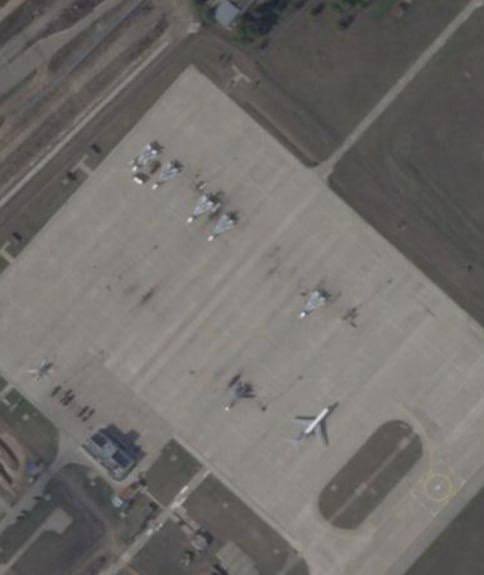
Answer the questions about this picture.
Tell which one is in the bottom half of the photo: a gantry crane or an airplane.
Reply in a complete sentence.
The feature located in the bottom half of the photo is an airplane.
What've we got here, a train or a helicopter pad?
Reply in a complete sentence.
Of the two, only a helicopter pad appears.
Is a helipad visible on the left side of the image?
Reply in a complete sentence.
No, I can find no helipad on the left side of the image.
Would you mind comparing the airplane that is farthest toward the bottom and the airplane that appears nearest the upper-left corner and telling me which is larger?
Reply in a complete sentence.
The airplane that is farthest toward the bottom takes up more space than the airplane that appears nearest the upper-left corner.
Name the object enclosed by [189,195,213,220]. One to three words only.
airplane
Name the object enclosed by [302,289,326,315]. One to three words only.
airplane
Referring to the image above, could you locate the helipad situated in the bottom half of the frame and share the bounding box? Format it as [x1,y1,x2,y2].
[409,457,464,515]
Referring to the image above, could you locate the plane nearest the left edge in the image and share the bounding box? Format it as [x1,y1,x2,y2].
[134,143,158,169]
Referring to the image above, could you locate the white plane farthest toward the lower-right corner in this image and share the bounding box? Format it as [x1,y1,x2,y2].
[291,407,331,446]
